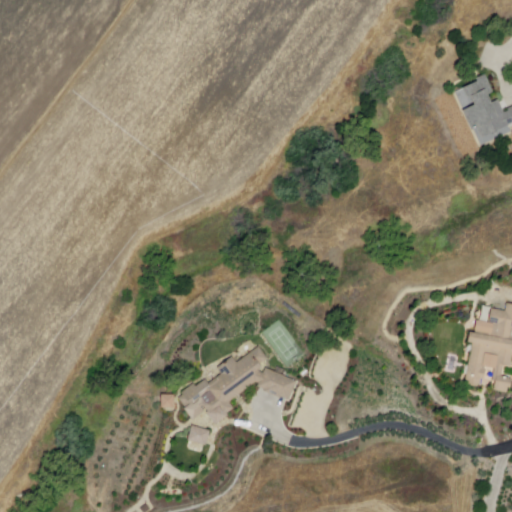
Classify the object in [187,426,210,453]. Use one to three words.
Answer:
house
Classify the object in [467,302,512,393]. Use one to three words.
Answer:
house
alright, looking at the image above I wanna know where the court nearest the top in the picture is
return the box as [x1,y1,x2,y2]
[262,321,303,366]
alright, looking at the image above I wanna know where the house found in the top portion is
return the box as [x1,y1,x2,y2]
[456,76,512,145]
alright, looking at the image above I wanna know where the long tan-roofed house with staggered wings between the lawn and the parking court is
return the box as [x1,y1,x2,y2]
[177,348,300,426]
